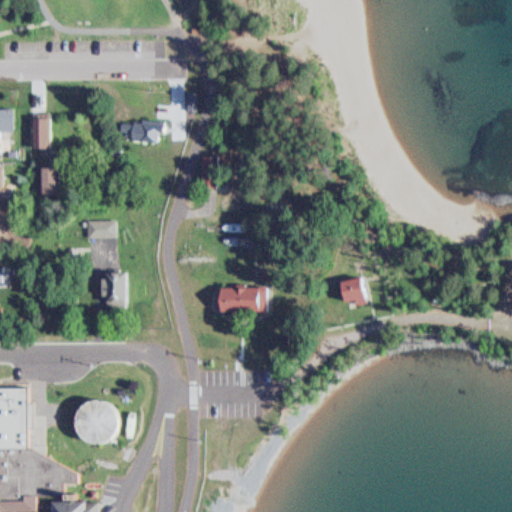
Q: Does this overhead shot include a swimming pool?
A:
No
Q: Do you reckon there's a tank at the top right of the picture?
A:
No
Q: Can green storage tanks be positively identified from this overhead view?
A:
No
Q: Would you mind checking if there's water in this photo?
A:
Yes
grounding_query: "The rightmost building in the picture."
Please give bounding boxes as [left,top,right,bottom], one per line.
[340,276,370,308]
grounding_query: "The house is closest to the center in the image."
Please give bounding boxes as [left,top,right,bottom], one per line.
[220,286,269,312]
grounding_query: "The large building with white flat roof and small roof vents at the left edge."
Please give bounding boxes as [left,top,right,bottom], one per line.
[0,386,32,450]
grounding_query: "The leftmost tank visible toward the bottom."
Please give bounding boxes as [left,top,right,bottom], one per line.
[72,400,124,446]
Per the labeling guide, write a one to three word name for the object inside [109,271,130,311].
house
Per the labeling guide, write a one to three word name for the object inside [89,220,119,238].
house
